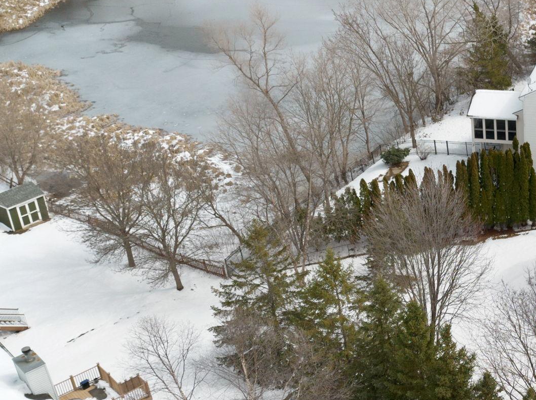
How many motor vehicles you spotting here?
0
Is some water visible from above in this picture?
Yes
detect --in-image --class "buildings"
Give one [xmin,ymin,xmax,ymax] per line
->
[461,63,536,158]
[0,184,50,231]
[0,342,59,400]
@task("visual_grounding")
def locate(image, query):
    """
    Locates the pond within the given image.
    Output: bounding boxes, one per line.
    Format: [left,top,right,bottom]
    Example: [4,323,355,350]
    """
[0,0,524,212]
